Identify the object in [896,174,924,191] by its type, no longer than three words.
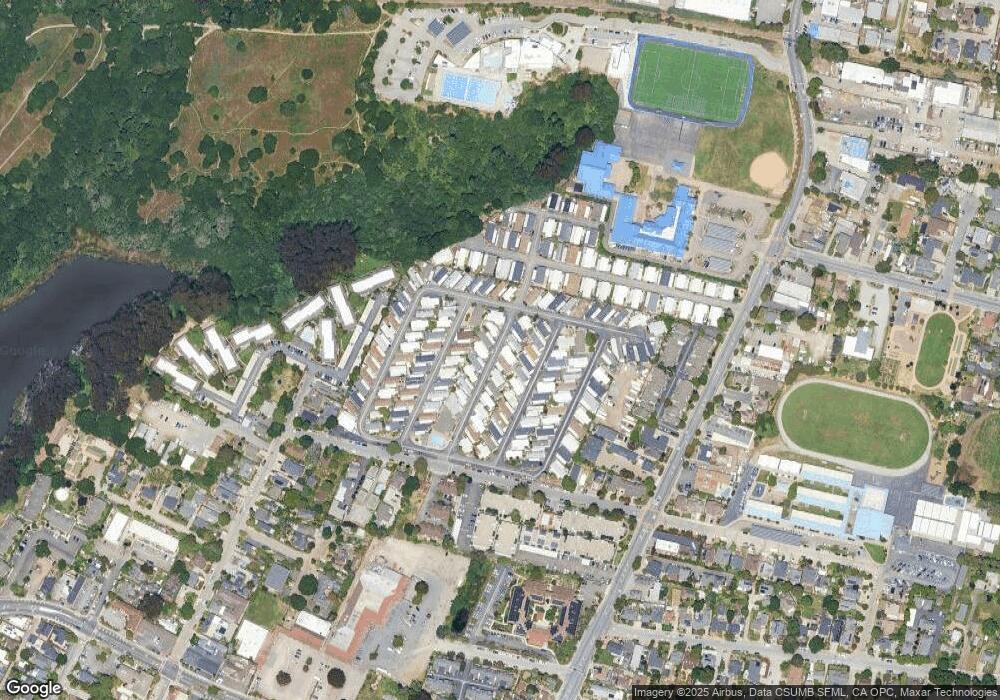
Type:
house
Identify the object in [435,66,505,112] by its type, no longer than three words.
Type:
swimming pool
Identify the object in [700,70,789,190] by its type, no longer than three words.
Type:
baseball field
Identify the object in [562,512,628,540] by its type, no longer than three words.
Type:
building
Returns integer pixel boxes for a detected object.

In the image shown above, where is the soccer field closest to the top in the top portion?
[630,35,754,127]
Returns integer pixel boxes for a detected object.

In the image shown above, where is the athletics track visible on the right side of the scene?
[776,377,934,474]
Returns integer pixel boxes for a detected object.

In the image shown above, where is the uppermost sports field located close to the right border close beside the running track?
[913,310,958,390]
